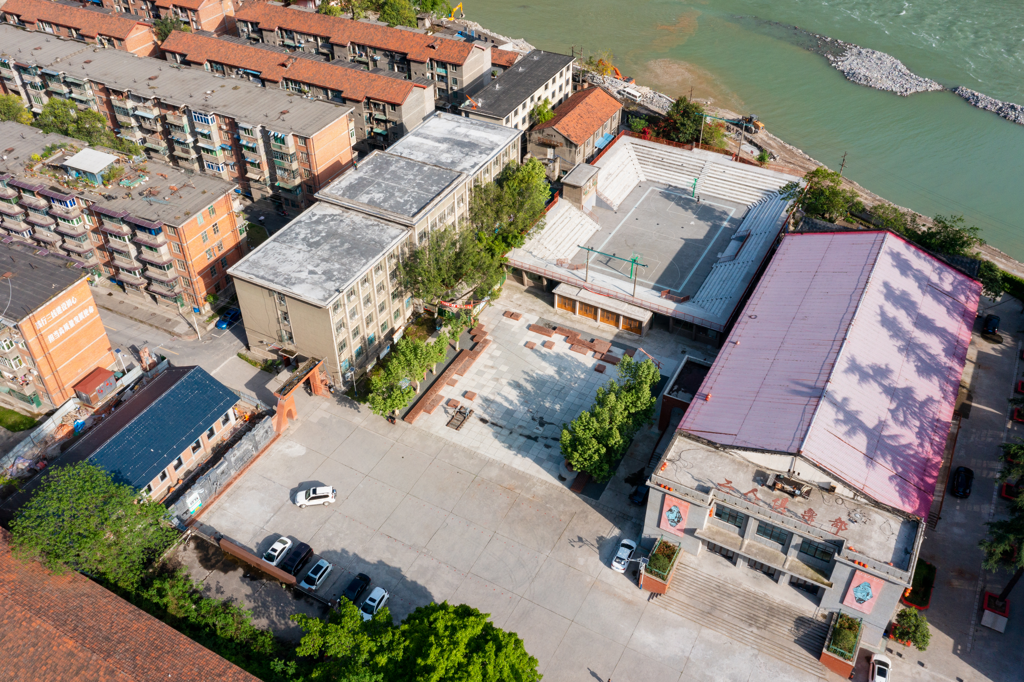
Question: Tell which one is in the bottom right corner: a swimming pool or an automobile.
automobile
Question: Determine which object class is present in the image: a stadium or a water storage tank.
stadium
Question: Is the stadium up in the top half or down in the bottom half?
top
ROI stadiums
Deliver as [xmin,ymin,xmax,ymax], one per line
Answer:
[503,131,810,346]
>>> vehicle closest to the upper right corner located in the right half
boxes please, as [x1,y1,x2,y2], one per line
[734,115,769,136]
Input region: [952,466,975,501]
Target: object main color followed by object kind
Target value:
black car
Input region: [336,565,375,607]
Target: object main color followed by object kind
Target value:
black car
